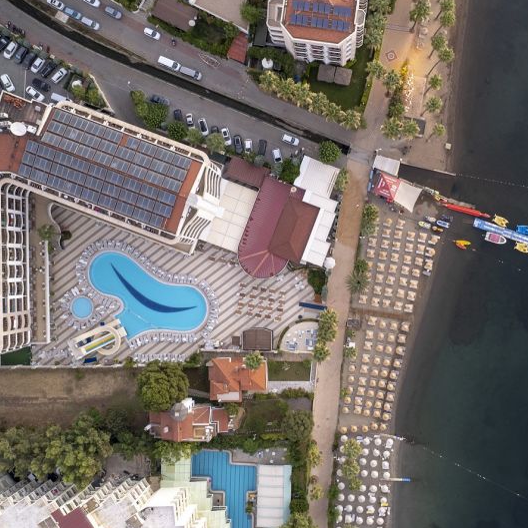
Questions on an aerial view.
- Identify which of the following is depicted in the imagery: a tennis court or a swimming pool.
swimming pool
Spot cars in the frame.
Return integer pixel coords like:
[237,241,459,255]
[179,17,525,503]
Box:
[78,14,101,30]
[48,89,70,102]
[62,5,82,20]
[172,105,183,123]
[40,59,58,79]
[156,55,179,70]
[210,120,220,138]
[0,73,16,91]
[197,116,209,138]
[30,76,51,93]
[221,125,231,145]
[257,137,267,157]
[4,41,20,59]
[232,133,242,153]
[0,34,12,53]
[244,137,253,154]
[271,146,282,164]
[279,133,302,146]
[183,109,195,129]
[31,57,46,74]
[14,45,30,64]
[22,51,38,68]
[142,26,161,40]
[178,64,200,80]
[25,84,44,102]
[102,4,124,20]
[52,66,68,84]
[84,0,101,7]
